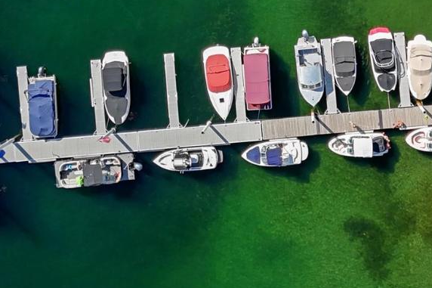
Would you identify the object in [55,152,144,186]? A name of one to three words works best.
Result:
boat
